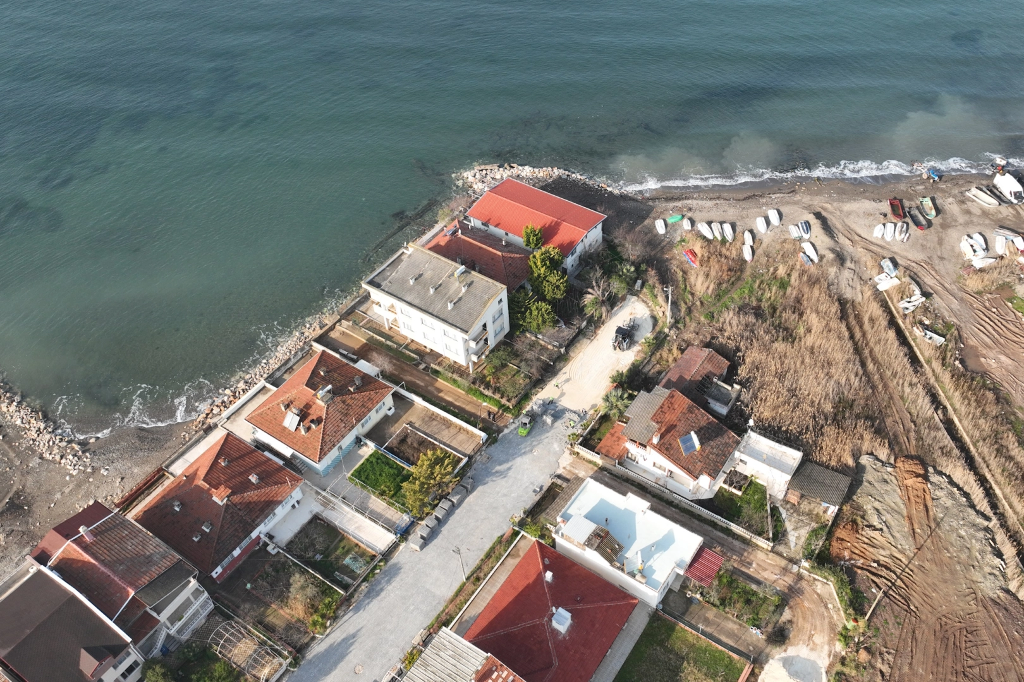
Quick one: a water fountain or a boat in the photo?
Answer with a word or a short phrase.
boat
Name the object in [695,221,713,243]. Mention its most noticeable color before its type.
white boat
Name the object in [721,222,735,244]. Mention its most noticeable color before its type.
white boat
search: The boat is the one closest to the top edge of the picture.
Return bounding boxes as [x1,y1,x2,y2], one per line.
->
[990,156,1012,169]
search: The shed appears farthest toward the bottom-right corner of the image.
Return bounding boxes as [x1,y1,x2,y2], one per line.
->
[782,460,851,517]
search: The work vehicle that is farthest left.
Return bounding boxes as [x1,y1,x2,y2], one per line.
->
[515,411,534,437]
